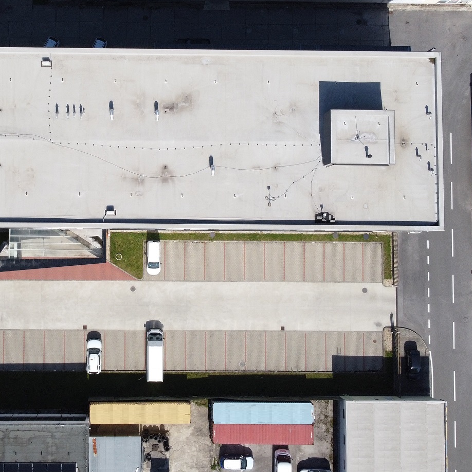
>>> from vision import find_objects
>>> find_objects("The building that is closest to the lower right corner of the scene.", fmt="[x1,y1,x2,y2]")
[335,394,449,472]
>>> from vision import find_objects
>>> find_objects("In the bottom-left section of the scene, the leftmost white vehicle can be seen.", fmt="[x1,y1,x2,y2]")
[85,337,102,376]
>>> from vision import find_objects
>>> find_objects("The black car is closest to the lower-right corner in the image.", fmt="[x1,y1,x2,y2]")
[404,347,423,380]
